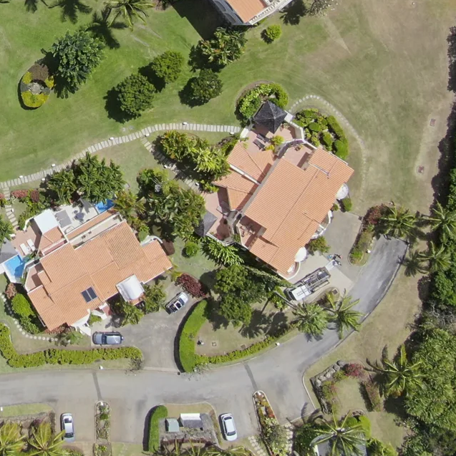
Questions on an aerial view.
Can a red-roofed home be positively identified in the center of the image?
No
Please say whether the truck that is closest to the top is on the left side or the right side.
right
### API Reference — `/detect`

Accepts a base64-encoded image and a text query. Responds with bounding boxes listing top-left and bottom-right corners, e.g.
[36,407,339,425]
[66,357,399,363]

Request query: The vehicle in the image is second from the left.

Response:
[92,330,121,345]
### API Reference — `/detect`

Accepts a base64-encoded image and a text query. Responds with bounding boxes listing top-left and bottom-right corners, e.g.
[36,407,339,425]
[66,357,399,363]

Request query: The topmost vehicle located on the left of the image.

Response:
[162,288,191,315]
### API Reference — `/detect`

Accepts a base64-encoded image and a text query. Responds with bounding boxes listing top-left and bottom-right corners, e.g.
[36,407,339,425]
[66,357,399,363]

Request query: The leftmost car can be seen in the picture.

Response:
[61,410,75,439]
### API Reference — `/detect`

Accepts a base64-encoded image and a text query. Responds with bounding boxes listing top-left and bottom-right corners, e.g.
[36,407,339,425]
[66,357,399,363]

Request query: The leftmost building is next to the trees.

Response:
[0,205,172,331]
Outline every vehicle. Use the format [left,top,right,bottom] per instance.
[219,410,236,440]
[284,263,336,302]
[162,288,191,315]
[61,410,75,439]
[92,330,121,345]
